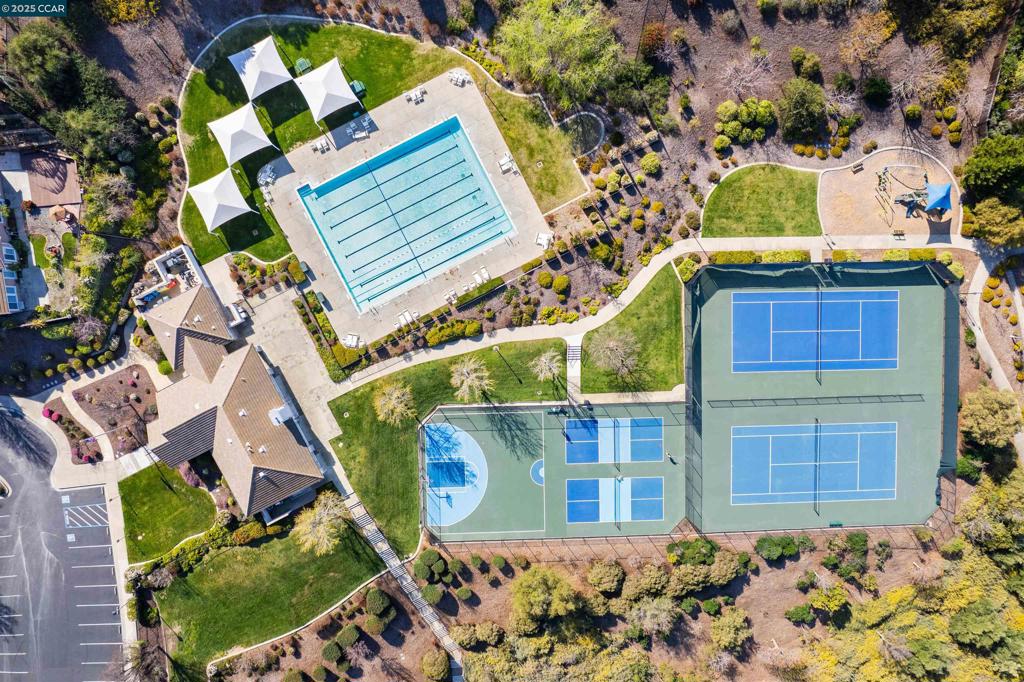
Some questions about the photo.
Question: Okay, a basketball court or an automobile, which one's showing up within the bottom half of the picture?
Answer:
basketball court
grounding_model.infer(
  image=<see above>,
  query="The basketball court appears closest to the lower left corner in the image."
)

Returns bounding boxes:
[426,412,545,534]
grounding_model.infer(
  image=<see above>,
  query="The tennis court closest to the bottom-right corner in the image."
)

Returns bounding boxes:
[731,419,897,516]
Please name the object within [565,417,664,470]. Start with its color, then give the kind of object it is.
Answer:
blue sports court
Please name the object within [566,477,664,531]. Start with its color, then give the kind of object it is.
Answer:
blue sports court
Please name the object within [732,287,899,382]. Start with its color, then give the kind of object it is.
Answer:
blue tennis court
